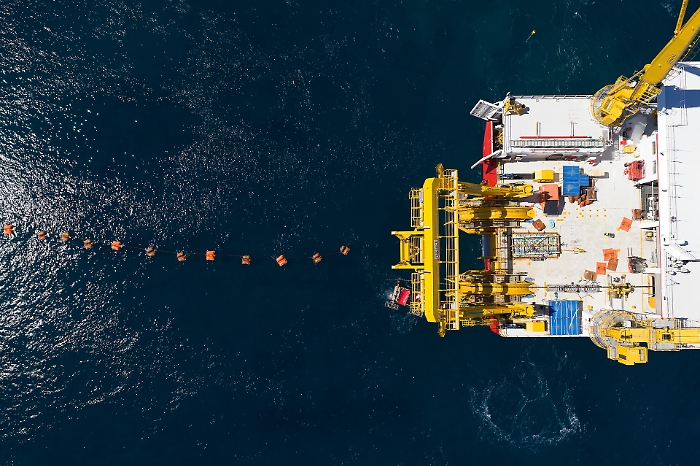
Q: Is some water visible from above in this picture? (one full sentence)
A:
Yes, there is water in the image.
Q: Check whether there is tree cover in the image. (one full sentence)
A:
No, the picture contains no tree cover.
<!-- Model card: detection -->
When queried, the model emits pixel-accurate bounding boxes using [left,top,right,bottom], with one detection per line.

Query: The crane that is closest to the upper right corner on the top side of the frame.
[587,0,700,128]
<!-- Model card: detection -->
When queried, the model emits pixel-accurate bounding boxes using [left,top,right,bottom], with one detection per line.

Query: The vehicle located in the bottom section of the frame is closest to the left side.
[385,277,414,310]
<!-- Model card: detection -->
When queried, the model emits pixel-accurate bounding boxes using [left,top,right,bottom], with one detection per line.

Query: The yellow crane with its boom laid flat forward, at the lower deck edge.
[589,310,700,364]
